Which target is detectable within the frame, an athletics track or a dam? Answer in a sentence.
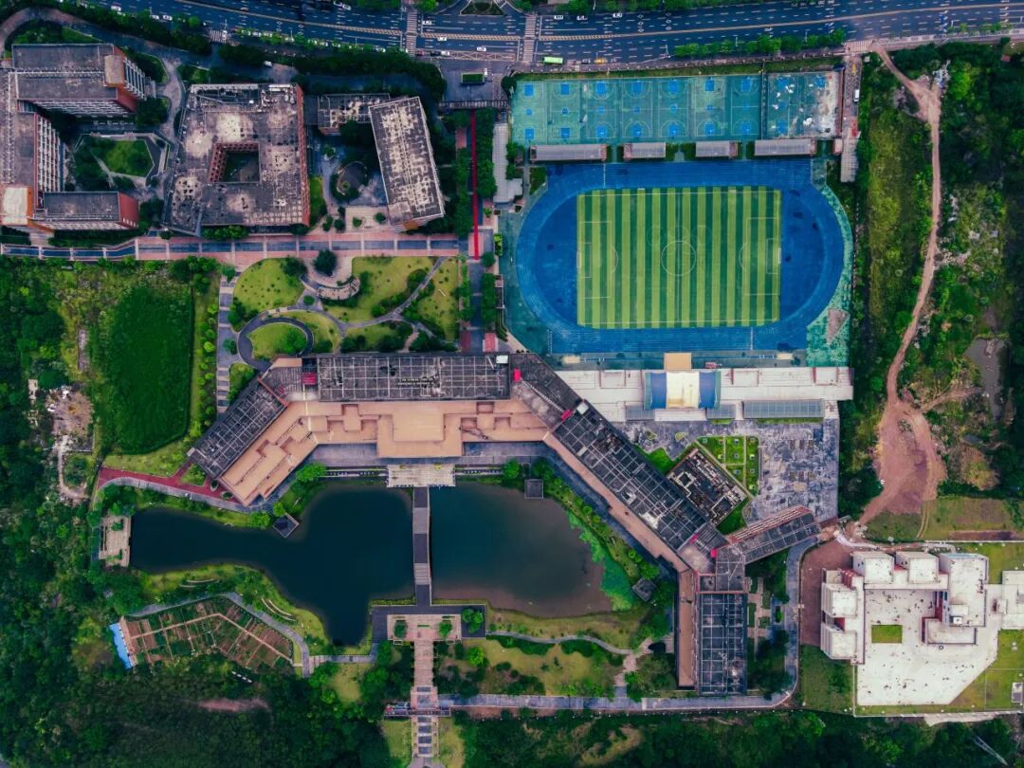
Looking from above, you can make out an athletics track.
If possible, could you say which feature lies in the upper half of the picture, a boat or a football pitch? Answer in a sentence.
Looking in the upper half of the picture, you will find a football pitch.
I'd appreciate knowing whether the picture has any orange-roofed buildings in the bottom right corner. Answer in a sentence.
No, looking in the bottom right corner, there is no orange-roofed building.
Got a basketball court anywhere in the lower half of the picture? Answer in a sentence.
No, I can find no basketball court in the lower half of the picture.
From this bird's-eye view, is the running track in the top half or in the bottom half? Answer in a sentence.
The top half of the photo is where the running track is.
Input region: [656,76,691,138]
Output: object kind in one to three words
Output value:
basketball court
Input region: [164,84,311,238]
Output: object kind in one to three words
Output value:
building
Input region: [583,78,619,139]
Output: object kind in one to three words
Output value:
basketball court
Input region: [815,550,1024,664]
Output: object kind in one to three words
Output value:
building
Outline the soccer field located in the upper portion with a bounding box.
[575,186,781,328]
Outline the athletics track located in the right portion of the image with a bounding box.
[517,159,843,354]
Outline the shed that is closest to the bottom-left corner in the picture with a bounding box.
[111,623,132,669]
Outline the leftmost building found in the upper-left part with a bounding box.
[0,43,154,236]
